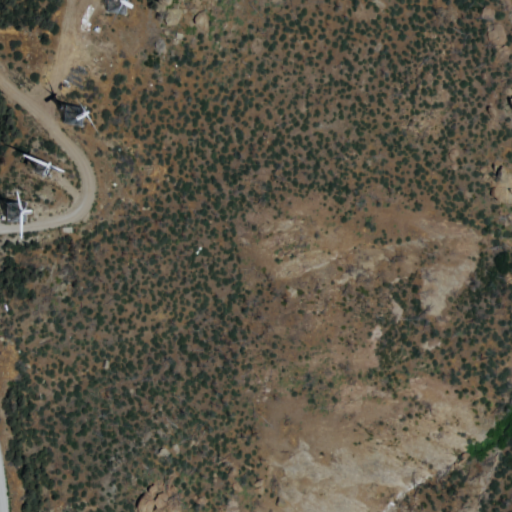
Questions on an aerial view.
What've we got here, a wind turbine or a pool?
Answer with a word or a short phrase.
wind turbine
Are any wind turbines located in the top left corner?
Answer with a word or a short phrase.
Yes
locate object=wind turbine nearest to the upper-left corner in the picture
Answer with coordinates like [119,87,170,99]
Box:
[108,0,135,24]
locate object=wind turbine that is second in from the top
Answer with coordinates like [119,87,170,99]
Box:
[64,98,100,137]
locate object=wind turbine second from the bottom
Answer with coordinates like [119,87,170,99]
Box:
[24,153,64,178]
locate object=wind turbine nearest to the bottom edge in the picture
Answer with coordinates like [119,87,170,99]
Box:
[8,188,34,237]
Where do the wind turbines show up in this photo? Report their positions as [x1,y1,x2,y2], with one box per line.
[64,98,100,137]
[108,0,135,24]
[24,153,64,178]
[8,188,34,237]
